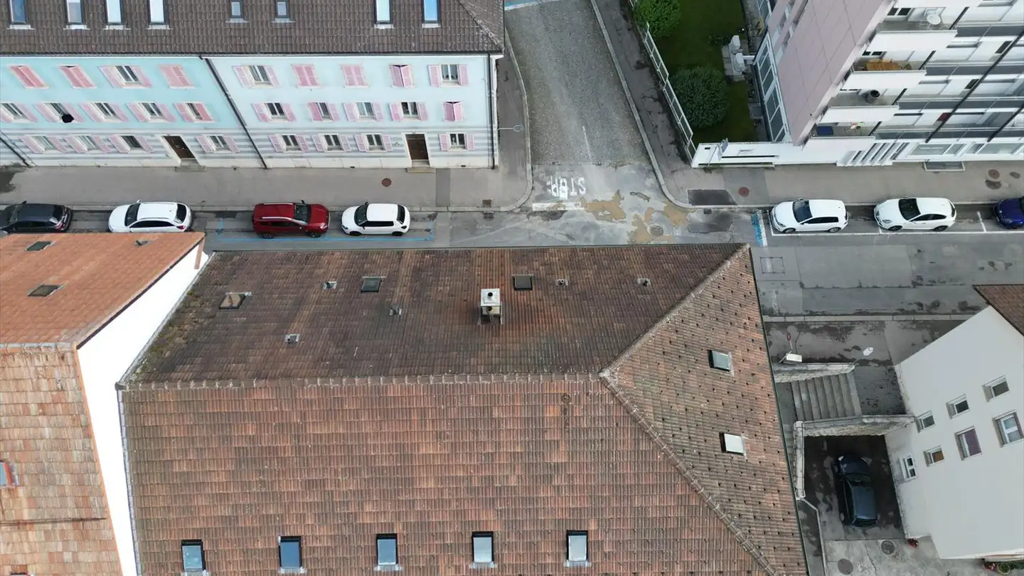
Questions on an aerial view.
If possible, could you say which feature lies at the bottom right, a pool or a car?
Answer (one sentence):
Visible at the bottom right is a car.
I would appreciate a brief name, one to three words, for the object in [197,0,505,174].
house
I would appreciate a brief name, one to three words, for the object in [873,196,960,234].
car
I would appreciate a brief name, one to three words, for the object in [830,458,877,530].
car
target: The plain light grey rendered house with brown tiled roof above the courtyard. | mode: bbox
[883,297,1024,560]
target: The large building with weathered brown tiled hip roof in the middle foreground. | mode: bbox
[111,242,811,576]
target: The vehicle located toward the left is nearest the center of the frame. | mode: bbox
[341,199,410,236]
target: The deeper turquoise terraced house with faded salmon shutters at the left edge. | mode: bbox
[0,0,263,174]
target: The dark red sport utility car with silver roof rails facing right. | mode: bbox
[249,199,330,238]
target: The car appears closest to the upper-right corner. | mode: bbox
[994,199,1024,232]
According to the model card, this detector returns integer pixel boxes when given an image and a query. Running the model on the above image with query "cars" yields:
[249,199,330,238]
[830,458,877,530]
[873,196,960,234]
[769,195,847,233]
[994,199,1024,232]
[0,202,73,235]
[341,199,410,236]
[108,201,193,235]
